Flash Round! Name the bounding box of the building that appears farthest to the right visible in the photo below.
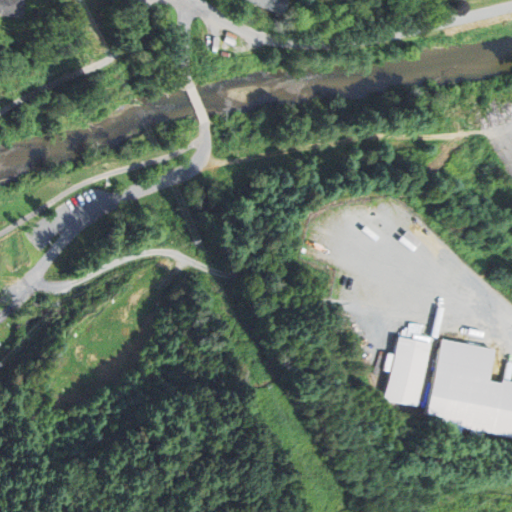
[428,338,512,434]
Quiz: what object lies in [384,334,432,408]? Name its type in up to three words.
shed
